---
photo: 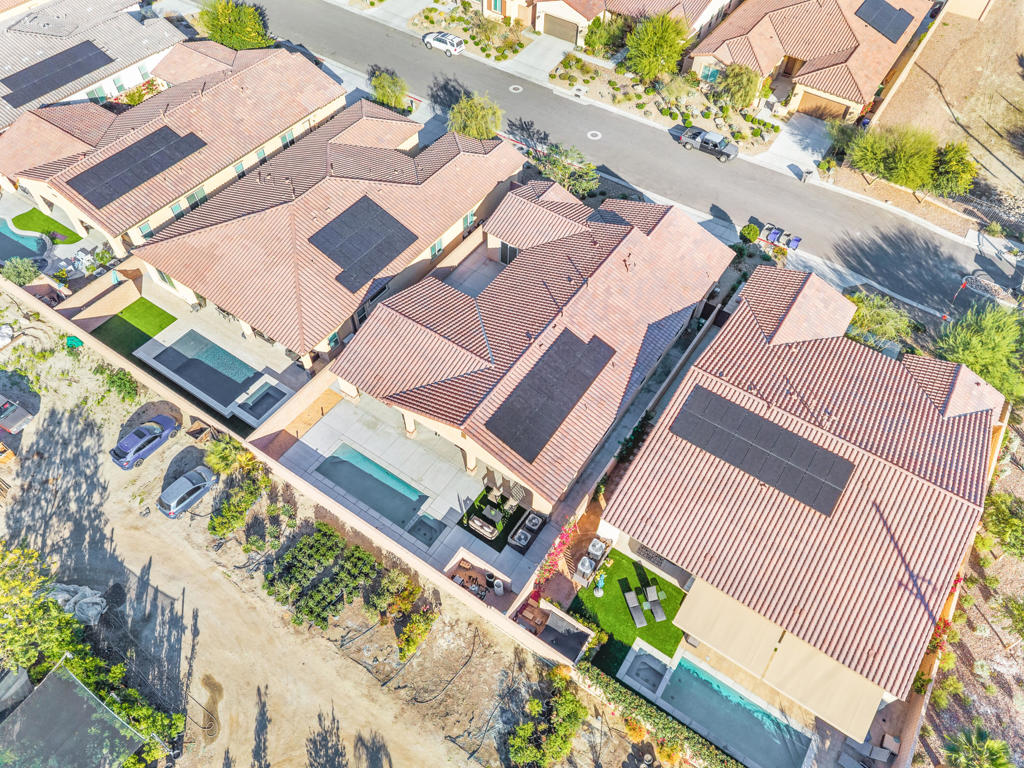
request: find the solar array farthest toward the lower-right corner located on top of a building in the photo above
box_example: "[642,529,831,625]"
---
[668,380,862,519]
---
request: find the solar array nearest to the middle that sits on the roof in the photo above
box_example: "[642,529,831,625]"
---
[478,325,619,461]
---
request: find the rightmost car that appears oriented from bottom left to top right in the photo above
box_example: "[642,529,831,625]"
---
[148,460,226,524]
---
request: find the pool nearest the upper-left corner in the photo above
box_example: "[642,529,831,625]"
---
[0,213,53,265]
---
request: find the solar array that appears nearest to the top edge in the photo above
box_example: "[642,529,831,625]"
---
[851,0,915,42]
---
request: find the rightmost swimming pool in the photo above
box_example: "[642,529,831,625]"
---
[655,646,822,768]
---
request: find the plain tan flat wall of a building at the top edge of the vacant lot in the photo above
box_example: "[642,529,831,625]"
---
[948,0,1005,34]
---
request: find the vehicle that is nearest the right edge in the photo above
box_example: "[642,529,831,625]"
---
[677,123,744,162]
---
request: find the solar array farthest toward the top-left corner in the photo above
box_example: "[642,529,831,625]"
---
[0,37,106,110]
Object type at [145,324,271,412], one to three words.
swimming pool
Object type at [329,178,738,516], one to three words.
house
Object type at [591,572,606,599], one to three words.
umbrella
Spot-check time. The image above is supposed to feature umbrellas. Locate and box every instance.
[591,572,606,599]
[107,273,118,289]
